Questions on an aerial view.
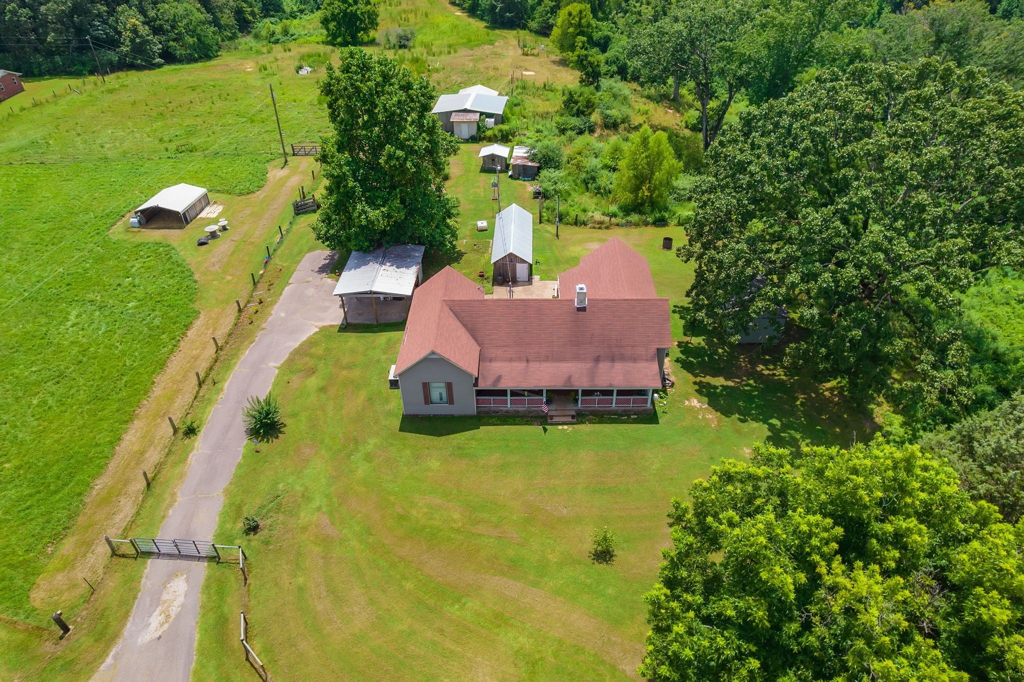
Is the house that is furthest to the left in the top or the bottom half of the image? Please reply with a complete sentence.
The house that is furthest to the left is in the top half of the image.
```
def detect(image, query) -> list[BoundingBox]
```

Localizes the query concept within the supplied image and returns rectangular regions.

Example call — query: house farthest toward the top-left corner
[0,64,32,99]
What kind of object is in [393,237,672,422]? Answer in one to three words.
house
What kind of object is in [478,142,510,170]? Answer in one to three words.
shed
